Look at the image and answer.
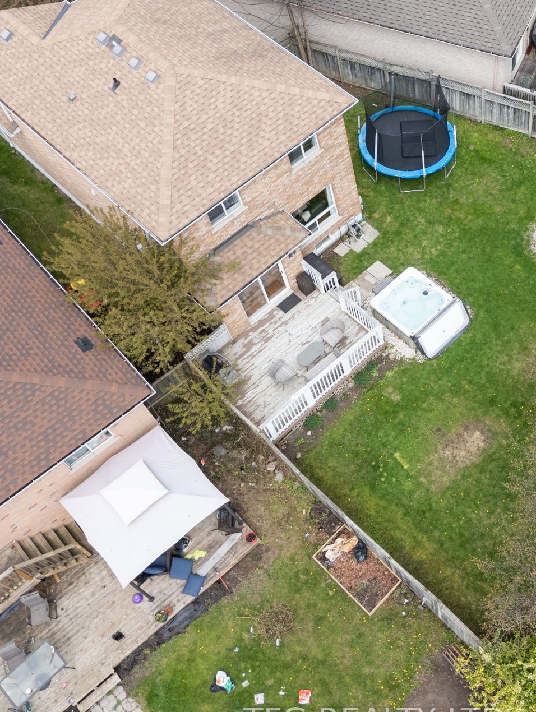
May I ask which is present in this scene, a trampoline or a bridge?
trampoline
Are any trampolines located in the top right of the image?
Yes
